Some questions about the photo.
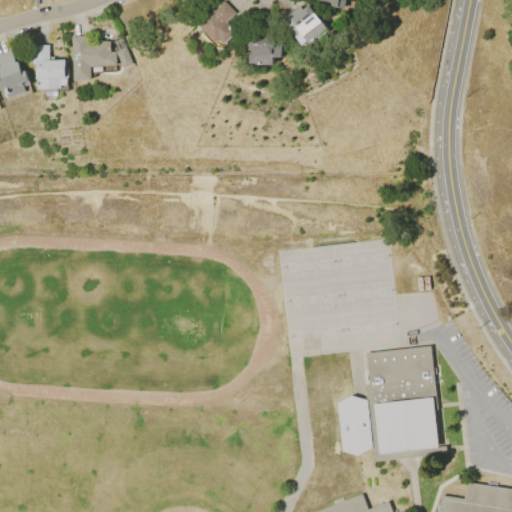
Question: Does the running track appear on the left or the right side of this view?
left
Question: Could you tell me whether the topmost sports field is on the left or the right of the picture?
left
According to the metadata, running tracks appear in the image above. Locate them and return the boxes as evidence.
[0,236,275,405]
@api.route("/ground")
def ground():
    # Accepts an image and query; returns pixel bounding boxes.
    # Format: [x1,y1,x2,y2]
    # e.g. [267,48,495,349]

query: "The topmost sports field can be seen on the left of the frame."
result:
[0,250,260,392]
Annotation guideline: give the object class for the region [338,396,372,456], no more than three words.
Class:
building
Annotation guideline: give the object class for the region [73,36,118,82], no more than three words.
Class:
house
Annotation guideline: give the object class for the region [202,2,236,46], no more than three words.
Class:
house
